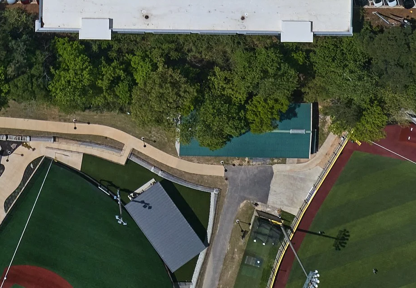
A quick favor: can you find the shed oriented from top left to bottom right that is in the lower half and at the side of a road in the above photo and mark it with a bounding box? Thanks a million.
[123,173,209,273]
